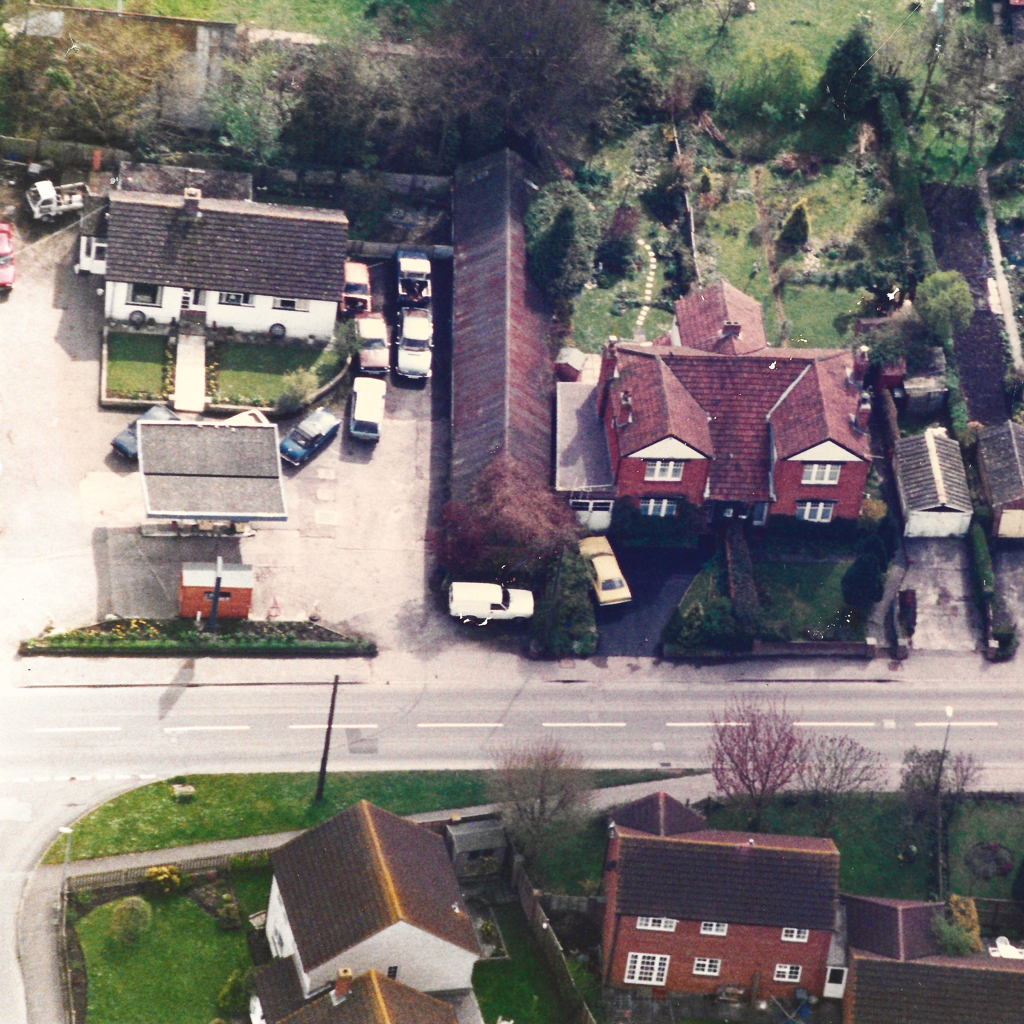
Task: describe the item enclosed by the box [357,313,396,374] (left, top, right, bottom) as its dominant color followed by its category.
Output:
white car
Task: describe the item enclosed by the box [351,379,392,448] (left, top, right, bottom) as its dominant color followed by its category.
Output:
white car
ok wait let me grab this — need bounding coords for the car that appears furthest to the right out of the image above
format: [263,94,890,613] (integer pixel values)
[571,533,632,602]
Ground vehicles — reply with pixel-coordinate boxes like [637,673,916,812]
[230,398,275,421]
[571,533,632,602]
[105,412,182,465]
[397,315,437,379]
[397,249,436,308]
[357,313,396,374]
[280,410,346,470]
[351,379,392,448]
[27,178,89,224]
[343,256,379,313]
[448,585,537,630]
